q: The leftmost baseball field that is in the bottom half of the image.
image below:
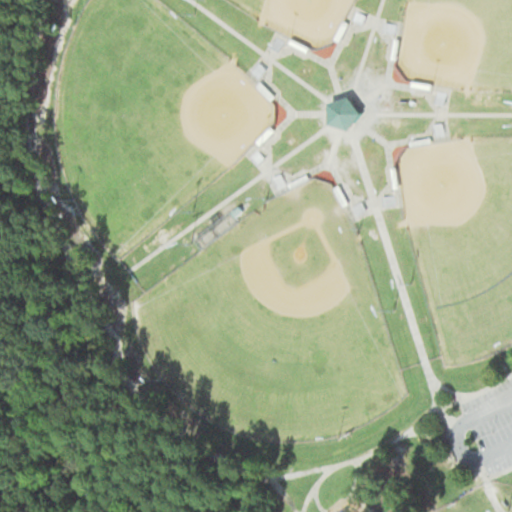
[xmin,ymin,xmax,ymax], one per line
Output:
[134,179,407,443]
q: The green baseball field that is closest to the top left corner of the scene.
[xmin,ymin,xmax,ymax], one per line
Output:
[55,0,276,263]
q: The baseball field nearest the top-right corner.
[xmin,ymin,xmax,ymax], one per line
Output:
[397,0,512,90]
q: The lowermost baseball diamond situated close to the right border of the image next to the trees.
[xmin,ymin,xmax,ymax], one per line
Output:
[398,137,512,368]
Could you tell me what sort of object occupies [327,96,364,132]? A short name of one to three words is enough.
building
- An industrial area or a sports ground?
sports ground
